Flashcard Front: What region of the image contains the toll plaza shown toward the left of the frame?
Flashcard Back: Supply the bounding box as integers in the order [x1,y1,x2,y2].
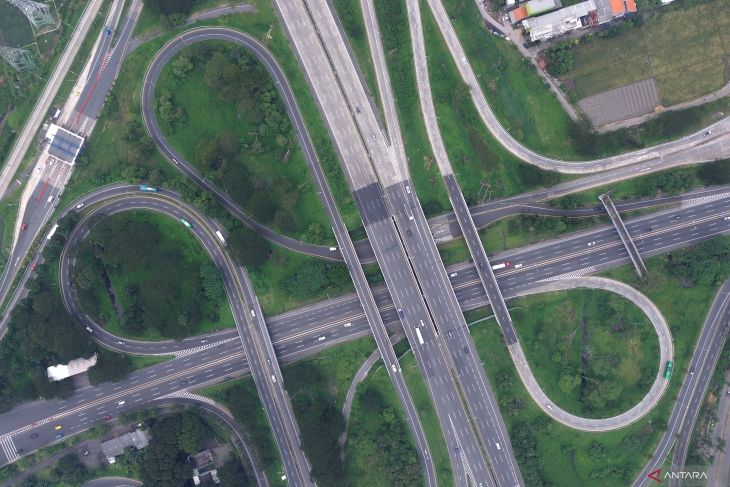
[46,126,88,171]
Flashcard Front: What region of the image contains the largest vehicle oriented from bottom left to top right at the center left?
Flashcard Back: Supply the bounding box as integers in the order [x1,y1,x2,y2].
[44,223,59,240]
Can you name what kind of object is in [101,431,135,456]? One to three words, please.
building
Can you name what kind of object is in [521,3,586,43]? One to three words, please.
building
